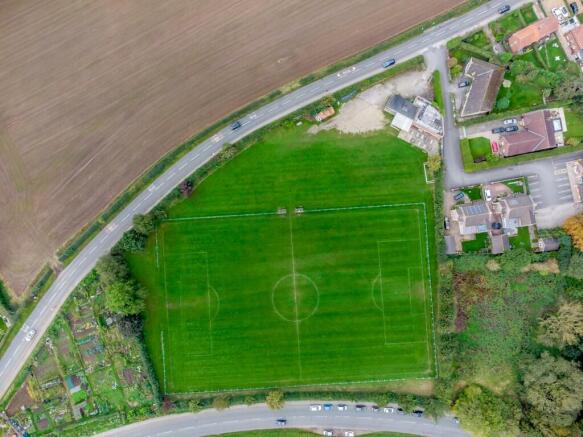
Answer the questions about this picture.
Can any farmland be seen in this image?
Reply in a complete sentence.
Yes, farmland shows up in the scene.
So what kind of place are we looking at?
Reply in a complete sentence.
What you see here is a sports ground.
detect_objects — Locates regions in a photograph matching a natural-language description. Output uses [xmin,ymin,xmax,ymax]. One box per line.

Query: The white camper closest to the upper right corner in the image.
[550,7,568,19]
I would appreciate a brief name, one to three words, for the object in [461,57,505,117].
house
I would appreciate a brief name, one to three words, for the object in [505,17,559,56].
house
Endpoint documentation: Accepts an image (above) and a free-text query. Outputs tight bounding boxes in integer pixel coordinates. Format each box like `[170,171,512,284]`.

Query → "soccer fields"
[126,122,440,402]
